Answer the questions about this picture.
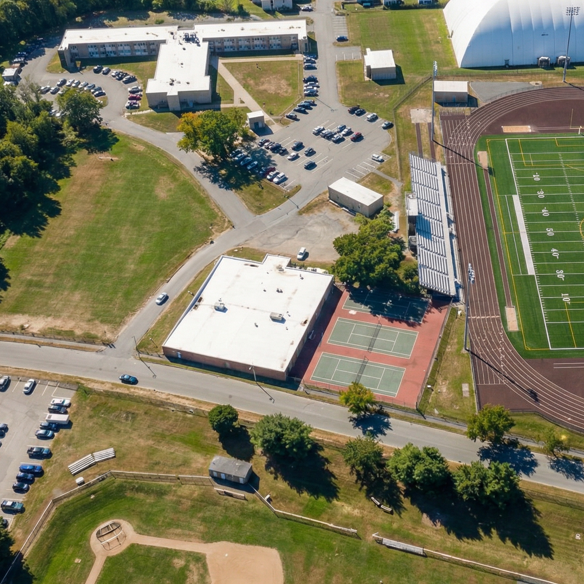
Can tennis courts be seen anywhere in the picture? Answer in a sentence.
Yes, a tennis court appears in the view.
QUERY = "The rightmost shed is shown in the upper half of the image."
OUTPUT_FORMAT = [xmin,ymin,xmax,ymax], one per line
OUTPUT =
[433,81,468,102]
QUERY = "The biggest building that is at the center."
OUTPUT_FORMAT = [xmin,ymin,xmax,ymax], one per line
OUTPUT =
[162,254,334,380]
